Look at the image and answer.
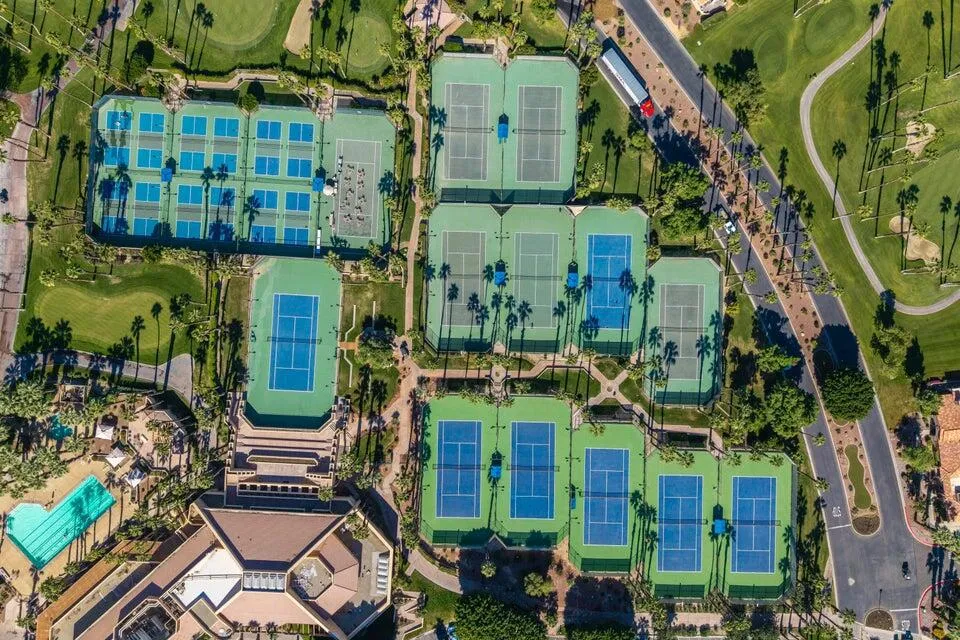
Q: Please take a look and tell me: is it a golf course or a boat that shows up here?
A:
golf course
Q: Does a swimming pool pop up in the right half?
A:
No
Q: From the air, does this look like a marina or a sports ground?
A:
sports ground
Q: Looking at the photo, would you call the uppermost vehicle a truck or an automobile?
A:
truck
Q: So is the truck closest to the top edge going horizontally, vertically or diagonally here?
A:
diagonally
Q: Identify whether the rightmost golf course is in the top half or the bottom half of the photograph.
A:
top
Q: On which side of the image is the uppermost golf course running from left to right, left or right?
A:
left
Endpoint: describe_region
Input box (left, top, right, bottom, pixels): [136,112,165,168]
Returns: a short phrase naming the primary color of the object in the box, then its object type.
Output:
blue sports court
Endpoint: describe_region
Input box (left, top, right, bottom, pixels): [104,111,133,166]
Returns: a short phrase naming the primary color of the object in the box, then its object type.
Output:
blue sports court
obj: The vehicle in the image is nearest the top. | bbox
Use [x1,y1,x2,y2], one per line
[602,49,658,125]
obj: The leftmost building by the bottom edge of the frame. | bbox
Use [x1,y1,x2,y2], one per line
[37,490,397,640]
